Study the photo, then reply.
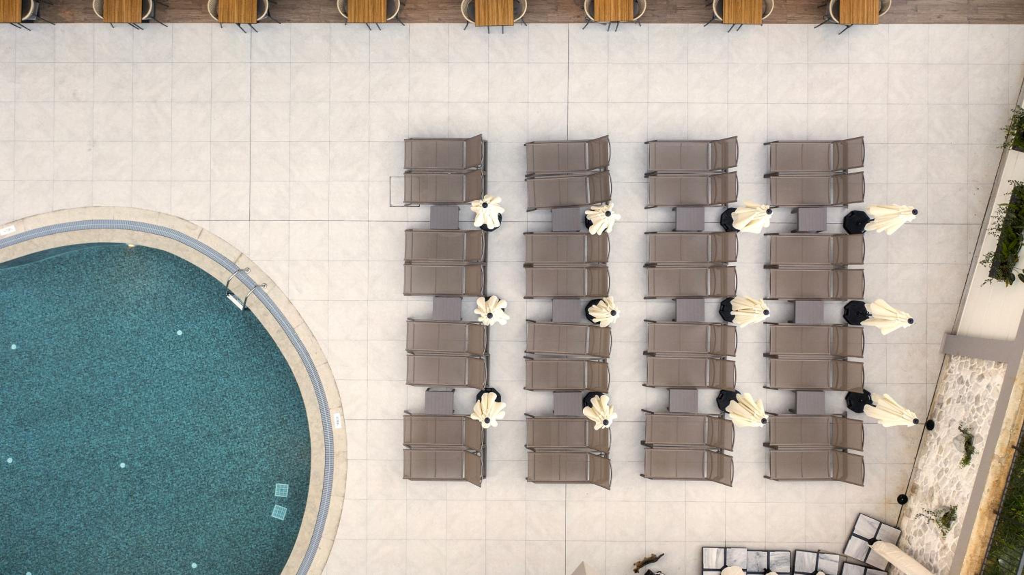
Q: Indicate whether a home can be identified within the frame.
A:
No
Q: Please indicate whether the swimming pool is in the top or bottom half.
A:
bottom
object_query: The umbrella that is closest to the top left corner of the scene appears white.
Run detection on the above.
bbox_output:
[470,197,506,231]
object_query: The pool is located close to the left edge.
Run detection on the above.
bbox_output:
[0,243,311,575]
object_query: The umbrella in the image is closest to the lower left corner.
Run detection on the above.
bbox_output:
[470,388,504,426]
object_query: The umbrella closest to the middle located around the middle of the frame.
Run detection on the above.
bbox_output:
[474,294,510,327]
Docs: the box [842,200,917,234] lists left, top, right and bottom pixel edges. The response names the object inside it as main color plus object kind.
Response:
white umbrella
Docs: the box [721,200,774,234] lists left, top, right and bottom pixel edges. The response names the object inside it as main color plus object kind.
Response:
white umbrella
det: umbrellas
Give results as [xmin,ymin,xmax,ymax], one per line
[716,390,768,428]
[842,299,913,333]
[719,293,771,329]
[721,200,774,234]
[580,392,618,429]
[585,292,620,331]
[470,388,504,426]
[583,202,618,235]
[474,294,510,327]
[842,200,917,234]
[846,391,919,426]
[470,197,506,231]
